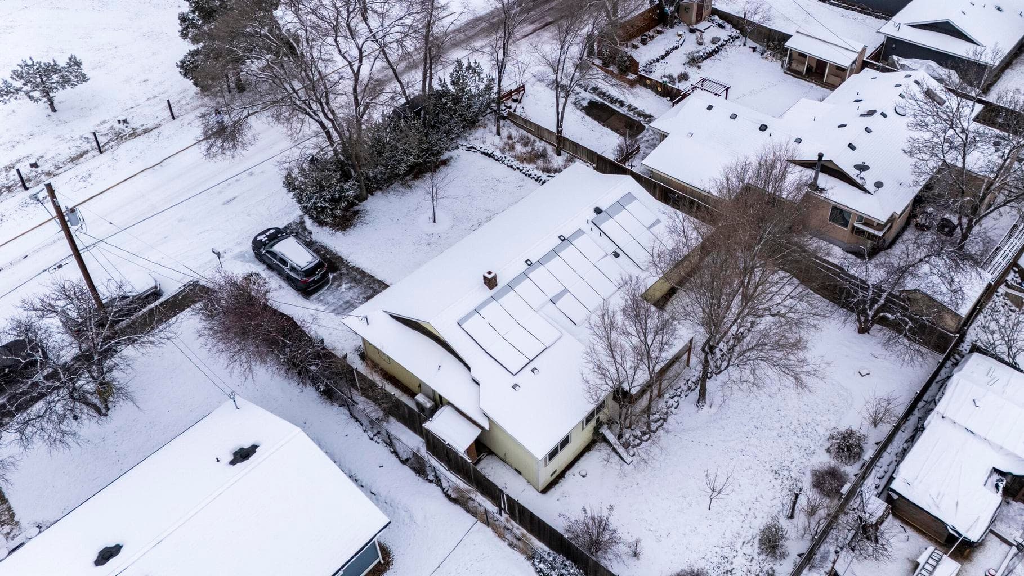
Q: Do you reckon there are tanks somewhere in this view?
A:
No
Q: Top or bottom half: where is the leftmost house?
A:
bottom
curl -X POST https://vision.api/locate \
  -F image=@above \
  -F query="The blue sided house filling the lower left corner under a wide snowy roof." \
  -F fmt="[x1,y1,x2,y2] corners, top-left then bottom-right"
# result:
[0,391,387,576]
